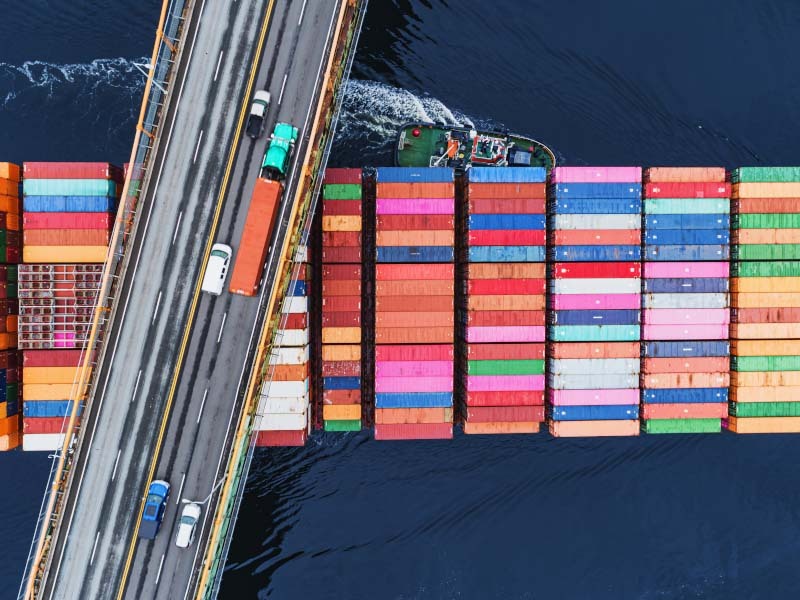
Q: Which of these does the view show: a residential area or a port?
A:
port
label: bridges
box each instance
[14,0,377,600]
